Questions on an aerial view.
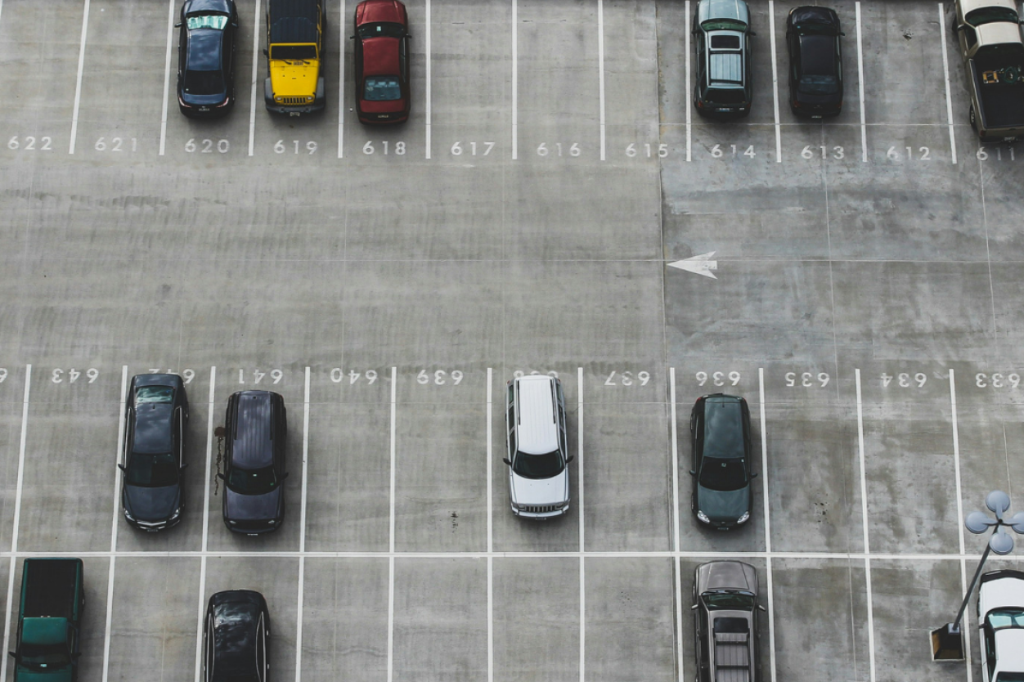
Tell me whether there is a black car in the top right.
Yes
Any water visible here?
No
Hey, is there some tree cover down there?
No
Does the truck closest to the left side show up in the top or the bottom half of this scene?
bottom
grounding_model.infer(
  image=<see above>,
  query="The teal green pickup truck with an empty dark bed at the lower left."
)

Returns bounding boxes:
[6,559,86,682]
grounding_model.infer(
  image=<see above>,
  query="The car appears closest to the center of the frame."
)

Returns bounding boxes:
[499,377,578,524]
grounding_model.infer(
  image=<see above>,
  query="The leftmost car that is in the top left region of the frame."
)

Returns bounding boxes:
[171,0,245,119]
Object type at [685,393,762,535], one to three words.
car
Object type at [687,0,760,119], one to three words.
car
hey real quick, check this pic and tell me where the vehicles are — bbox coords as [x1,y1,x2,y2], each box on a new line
[975,568,1024,682]
[348,0,417,123]
[113,372,193,534]
[780,4,850,121]
[687,0,760,119]
[685,393,762,535]
[171,0,245,119]
[499,377,578,524]
[6,559,86,682]
[263,0,328,116]
[948,0,1024,145]
[688,560,770,682]
[214,390,293,536]
[201,589,272,682]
